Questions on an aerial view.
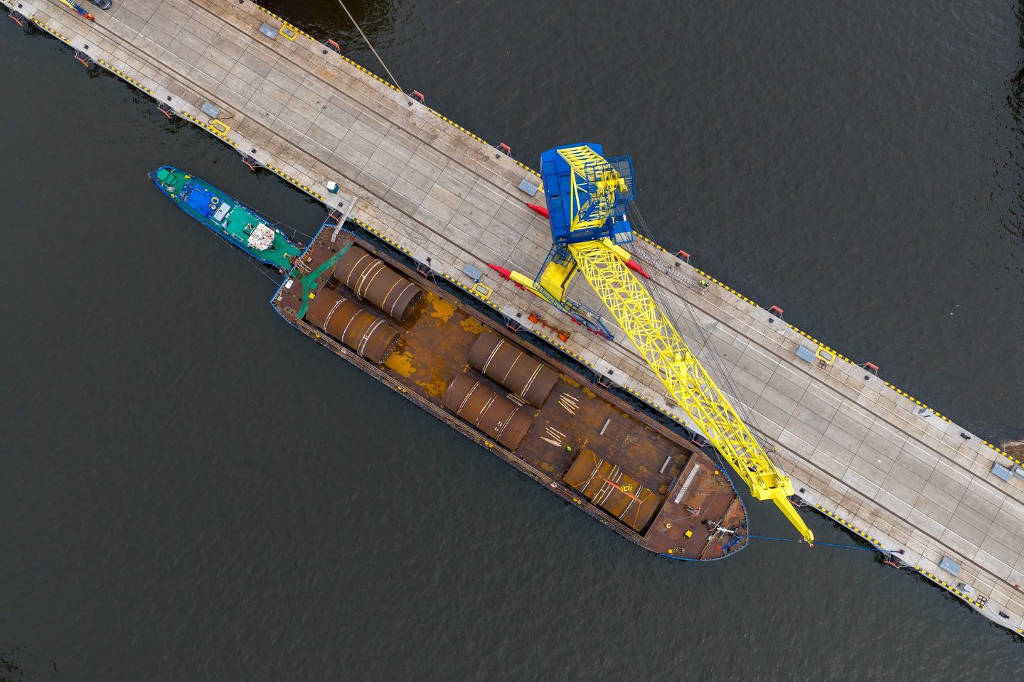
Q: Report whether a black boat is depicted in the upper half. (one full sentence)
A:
No, I can find no black boat in the upper half.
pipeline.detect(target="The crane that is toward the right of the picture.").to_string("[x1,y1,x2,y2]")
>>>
[488,143,817,558]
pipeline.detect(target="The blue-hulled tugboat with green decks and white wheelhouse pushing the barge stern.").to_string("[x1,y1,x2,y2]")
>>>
[146,165,302,275]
